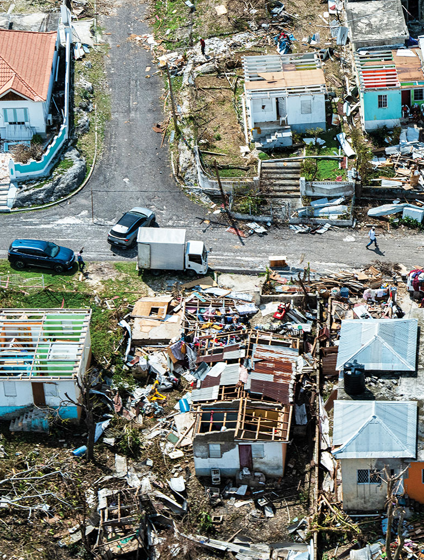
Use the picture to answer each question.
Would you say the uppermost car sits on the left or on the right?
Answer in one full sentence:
The uppermost car sits on the left side.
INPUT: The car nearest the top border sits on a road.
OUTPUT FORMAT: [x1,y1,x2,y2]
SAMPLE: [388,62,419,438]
[108,202,167,246]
